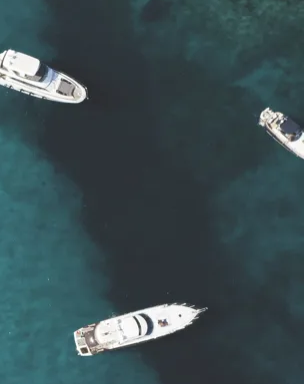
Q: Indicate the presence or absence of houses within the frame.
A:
No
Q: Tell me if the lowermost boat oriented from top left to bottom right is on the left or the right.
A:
right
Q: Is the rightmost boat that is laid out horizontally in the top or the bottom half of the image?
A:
bottom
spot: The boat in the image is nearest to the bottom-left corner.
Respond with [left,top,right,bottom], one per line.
[68,304,207,359]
